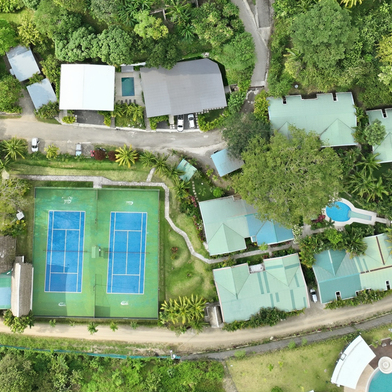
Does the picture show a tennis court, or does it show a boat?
tennis court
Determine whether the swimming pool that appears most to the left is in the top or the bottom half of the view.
top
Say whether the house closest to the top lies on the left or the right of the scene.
left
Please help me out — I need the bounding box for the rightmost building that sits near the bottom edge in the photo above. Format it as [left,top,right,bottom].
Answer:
[330,334,376,386]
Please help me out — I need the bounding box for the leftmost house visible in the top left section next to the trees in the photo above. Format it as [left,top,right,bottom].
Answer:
[7,46,41,81]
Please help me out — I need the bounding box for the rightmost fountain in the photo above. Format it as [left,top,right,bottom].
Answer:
[377,357,392,374]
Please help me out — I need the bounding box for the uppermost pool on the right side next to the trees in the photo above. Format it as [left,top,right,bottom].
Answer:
[324,198,377,226]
